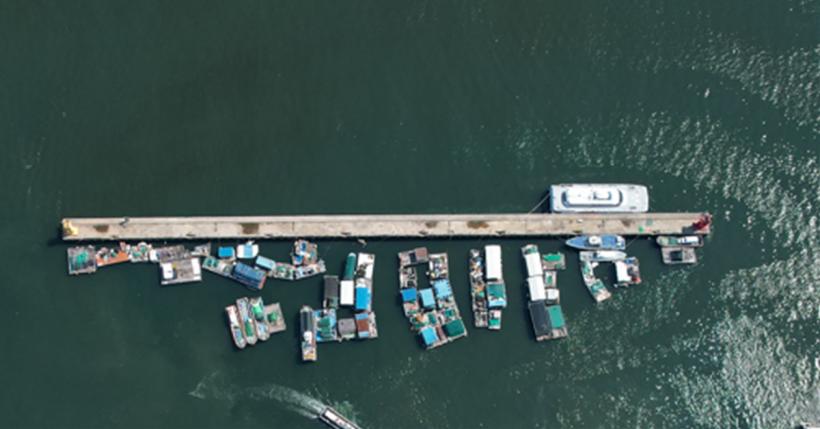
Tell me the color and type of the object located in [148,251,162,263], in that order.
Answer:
white boat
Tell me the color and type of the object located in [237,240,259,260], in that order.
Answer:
white boat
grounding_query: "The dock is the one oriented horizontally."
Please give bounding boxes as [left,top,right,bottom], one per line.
[62,212,713,243]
